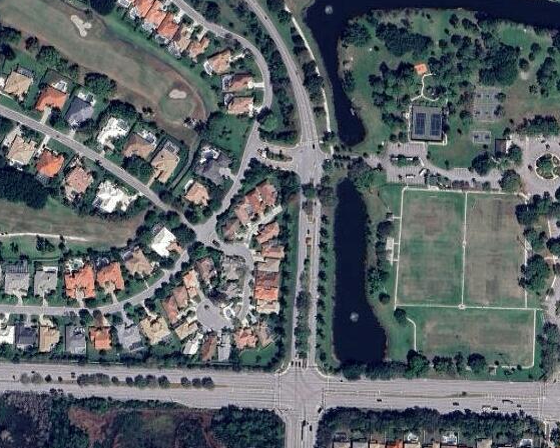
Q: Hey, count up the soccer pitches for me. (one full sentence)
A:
The picture shows 3 soccer pitches.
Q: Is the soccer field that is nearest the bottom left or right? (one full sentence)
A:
It is on the right.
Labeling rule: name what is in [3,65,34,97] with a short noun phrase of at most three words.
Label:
house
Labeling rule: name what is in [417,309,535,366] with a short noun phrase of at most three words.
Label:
soccer field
